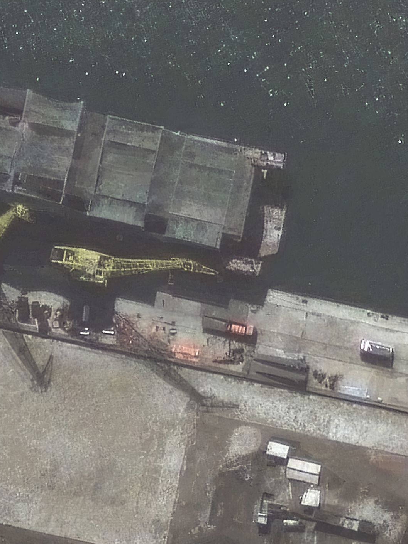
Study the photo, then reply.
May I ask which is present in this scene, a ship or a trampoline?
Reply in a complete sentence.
Visible in the photo is a ship.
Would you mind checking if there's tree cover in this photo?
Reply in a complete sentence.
No, the scene doesn't show any tree cover.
